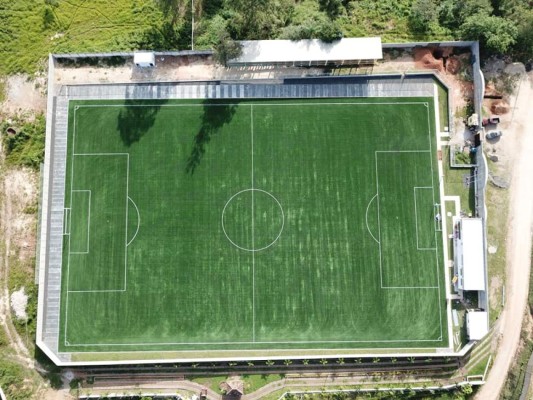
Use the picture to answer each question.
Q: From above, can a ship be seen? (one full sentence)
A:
No, the frame has no ship in it.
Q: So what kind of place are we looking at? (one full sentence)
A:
What you see here is a sports ground.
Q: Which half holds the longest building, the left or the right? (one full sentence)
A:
The longest building sits on the right side.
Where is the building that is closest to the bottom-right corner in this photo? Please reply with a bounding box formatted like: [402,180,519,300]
[464,310,488,340]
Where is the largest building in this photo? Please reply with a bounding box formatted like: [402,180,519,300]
[454,217,484,291]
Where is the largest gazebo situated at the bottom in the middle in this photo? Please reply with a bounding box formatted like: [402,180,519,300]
[223,374,244,399]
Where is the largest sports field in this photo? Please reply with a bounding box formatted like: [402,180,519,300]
[57,96,449,353]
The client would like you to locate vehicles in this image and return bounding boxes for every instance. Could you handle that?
[486,132,502,140]
[132,54,154,66]
[467,110,479,131]
[483,117,501,125]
